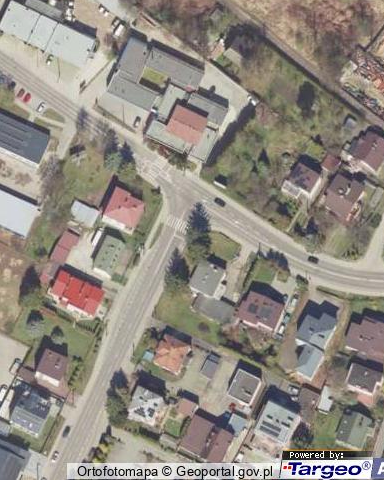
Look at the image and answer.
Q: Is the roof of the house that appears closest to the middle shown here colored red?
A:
No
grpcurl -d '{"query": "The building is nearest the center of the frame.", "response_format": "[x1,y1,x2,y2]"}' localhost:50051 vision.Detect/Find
[190,258,228,299]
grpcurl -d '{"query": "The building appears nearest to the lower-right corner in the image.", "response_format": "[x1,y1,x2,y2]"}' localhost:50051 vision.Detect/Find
[332,409,374,451]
